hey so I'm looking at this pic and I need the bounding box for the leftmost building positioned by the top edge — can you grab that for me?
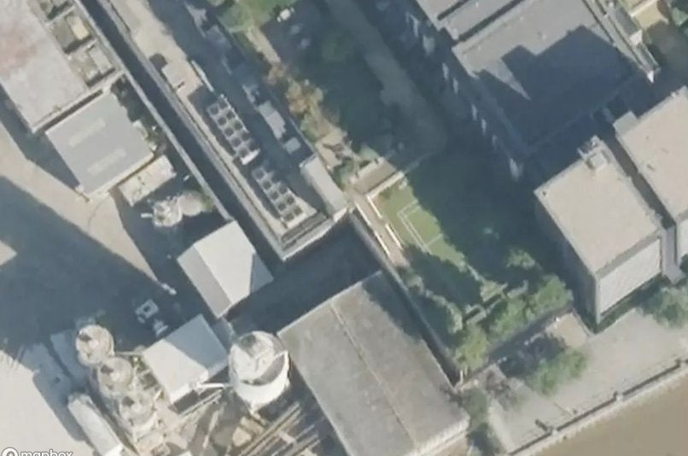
[0,0,126,144]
